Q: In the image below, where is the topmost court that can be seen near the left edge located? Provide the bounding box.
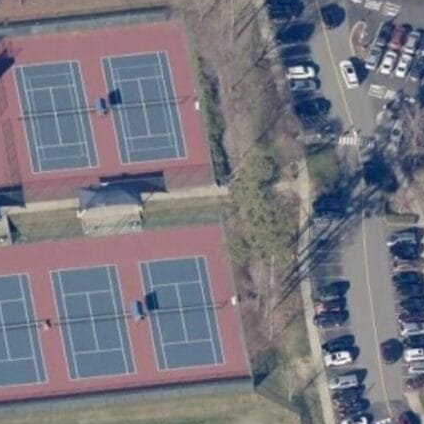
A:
[14,60,99,173]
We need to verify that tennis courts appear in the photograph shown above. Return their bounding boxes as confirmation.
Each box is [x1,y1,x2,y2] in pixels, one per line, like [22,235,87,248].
[50,264,136,380]
[14,60,99,173]
[102,51,187,164]
[0,273,47,386]
[138,255,225,371]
